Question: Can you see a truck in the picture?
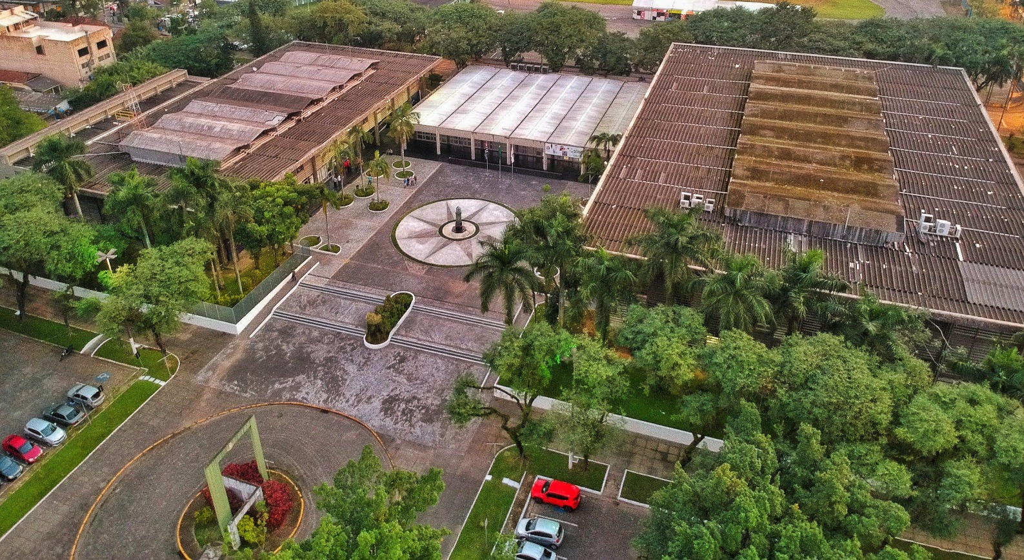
No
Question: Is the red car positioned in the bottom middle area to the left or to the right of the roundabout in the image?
right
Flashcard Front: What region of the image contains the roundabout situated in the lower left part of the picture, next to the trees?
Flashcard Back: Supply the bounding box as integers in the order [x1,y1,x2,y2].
[71,401,386,560]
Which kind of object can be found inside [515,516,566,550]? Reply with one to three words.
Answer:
car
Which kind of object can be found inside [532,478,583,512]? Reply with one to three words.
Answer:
car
